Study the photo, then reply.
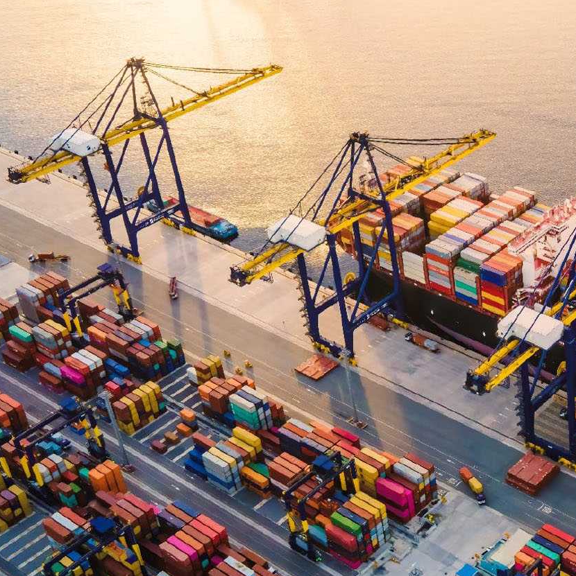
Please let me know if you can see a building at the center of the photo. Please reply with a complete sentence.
No, there's no building to be seen at the center of the photo.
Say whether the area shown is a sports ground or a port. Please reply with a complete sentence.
This looks like a port.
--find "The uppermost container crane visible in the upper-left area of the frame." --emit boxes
[5,53,283,262]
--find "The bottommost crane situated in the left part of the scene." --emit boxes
[45,513,157,576]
